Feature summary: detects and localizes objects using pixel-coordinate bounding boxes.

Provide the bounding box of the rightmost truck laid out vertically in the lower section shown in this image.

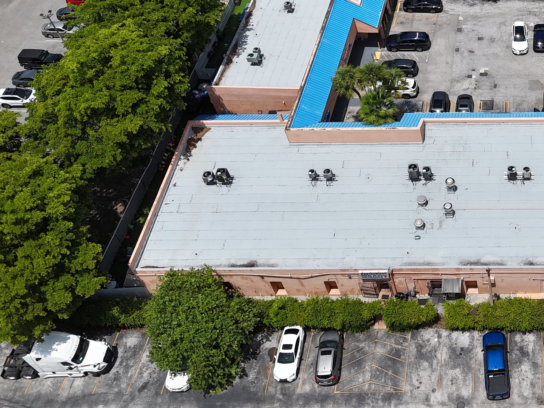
[480,329,512,404]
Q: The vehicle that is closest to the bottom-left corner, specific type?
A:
truck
